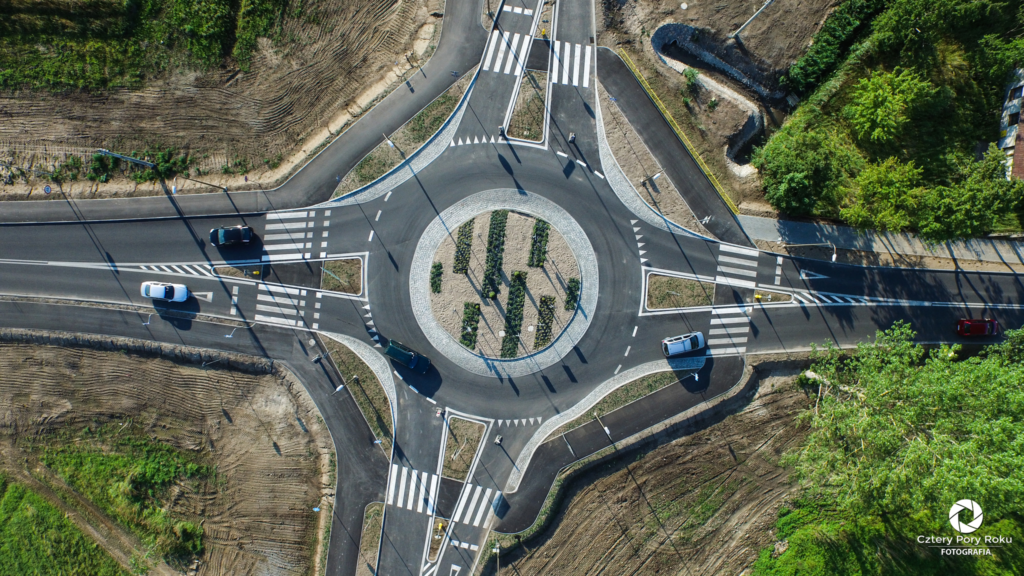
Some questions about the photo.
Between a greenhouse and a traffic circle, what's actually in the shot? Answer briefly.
traffic circle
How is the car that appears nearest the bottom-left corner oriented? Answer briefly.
horizontally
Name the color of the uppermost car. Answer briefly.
black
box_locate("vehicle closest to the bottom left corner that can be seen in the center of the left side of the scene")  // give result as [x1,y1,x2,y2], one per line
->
[139,280,192,304]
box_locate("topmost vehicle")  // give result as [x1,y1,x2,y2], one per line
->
[208,225,255,248]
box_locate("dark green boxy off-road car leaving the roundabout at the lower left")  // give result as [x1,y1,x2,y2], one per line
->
[384,338,435,373]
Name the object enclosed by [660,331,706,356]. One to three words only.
car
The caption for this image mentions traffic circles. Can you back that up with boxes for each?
[305,70,721,494]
